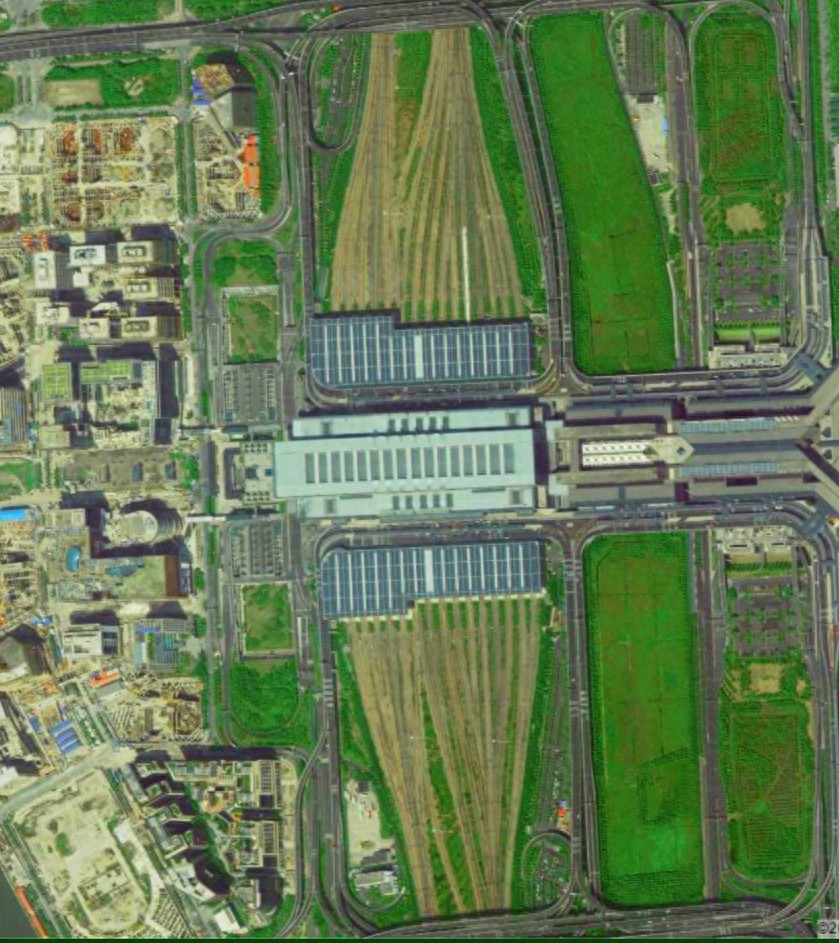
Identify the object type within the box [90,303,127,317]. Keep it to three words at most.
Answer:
building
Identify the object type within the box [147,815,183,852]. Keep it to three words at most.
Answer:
building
